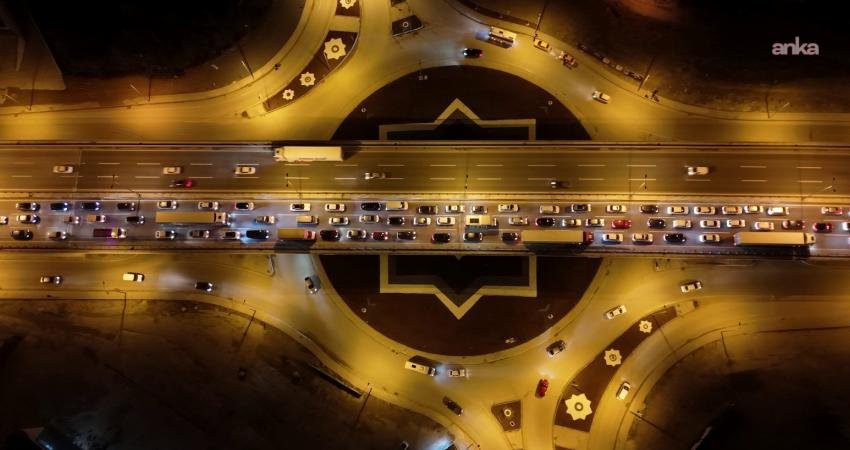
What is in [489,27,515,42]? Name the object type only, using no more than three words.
vehicle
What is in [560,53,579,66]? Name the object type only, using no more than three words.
vehicle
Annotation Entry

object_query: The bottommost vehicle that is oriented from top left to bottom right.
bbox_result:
[442,396,462,416]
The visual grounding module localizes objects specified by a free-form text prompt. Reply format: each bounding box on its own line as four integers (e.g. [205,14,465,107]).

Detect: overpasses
[0,139,850,267]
